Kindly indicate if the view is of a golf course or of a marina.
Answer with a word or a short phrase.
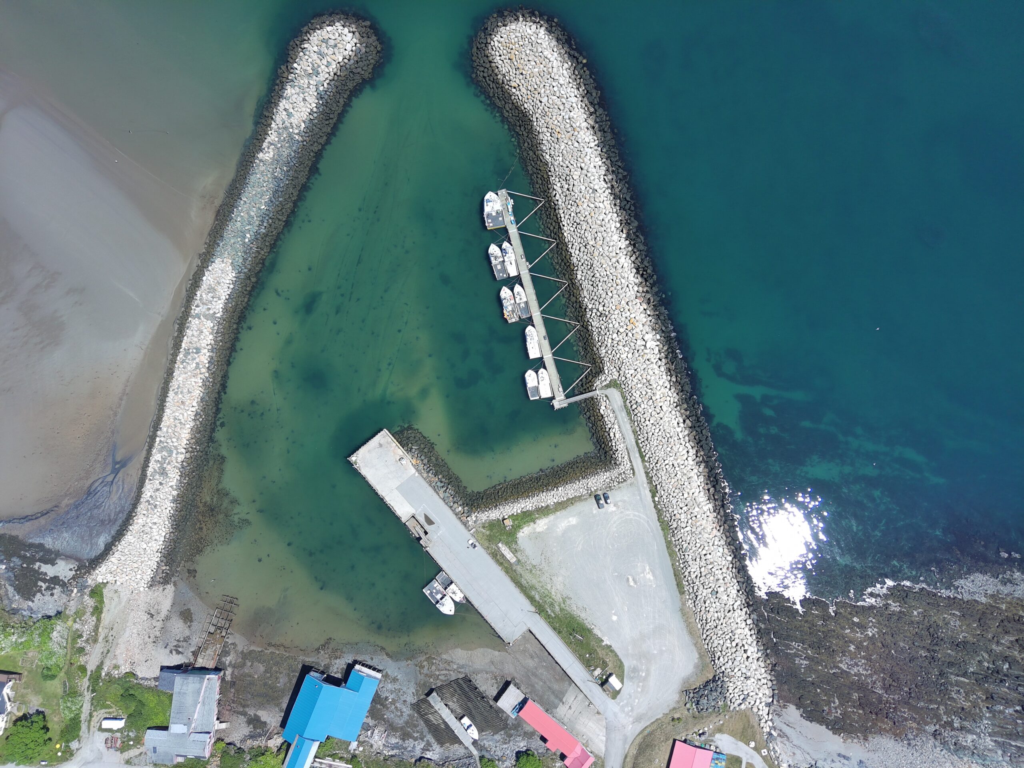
marina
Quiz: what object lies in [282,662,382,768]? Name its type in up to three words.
shed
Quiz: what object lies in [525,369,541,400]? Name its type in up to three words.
boat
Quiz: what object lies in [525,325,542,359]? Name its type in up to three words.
boat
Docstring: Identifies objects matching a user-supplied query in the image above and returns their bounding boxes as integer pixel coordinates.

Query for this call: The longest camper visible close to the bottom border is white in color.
[102,718,131,730]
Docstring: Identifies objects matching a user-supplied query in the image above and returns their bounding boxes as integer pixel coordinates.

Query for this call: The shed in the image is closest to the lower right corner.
[667,739,713,768]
